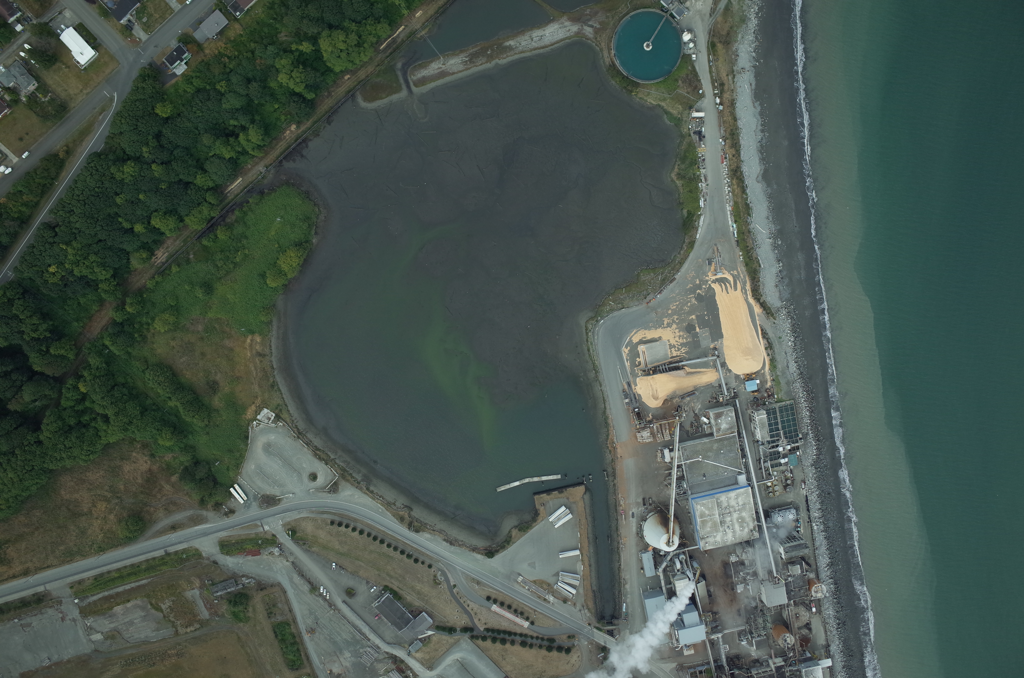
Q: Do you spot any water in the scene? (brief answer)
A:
Yes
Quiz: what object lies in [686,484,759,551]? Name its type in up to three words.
building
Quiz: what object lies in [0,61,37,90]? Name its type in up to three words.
house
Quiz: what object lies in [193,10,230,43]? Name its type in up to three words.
house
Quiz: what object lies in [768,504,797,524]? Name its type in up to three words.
cooling tower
